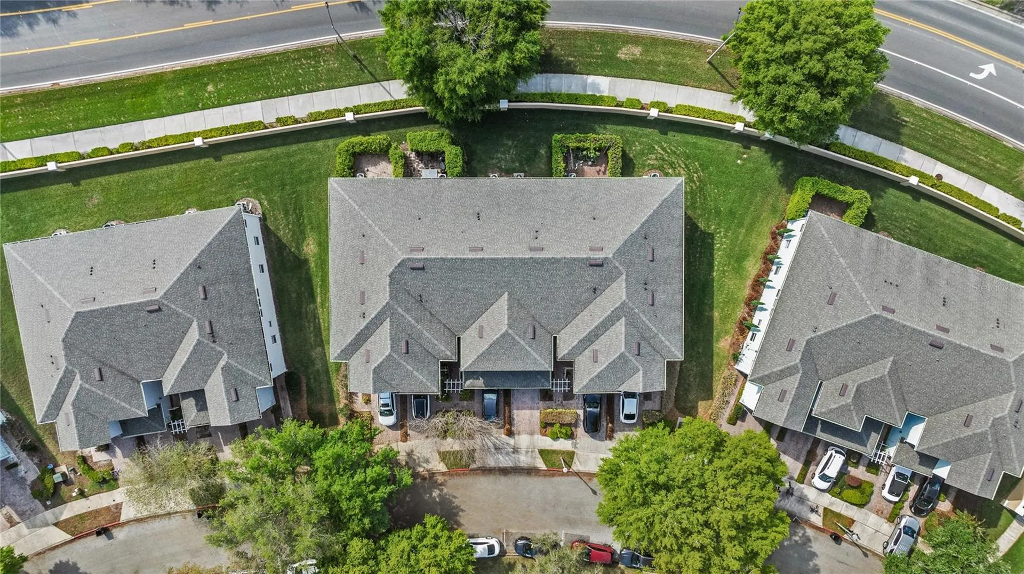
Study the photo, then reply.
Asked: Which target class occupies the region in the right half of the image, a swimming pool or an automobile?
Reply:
automobile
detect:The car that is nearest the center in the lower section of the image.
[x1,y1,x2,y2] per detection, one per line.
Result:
[478,389,502,421]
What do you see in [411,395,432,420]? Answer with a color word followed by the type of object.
black car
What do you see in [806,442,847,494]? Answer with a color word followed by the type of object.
white car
